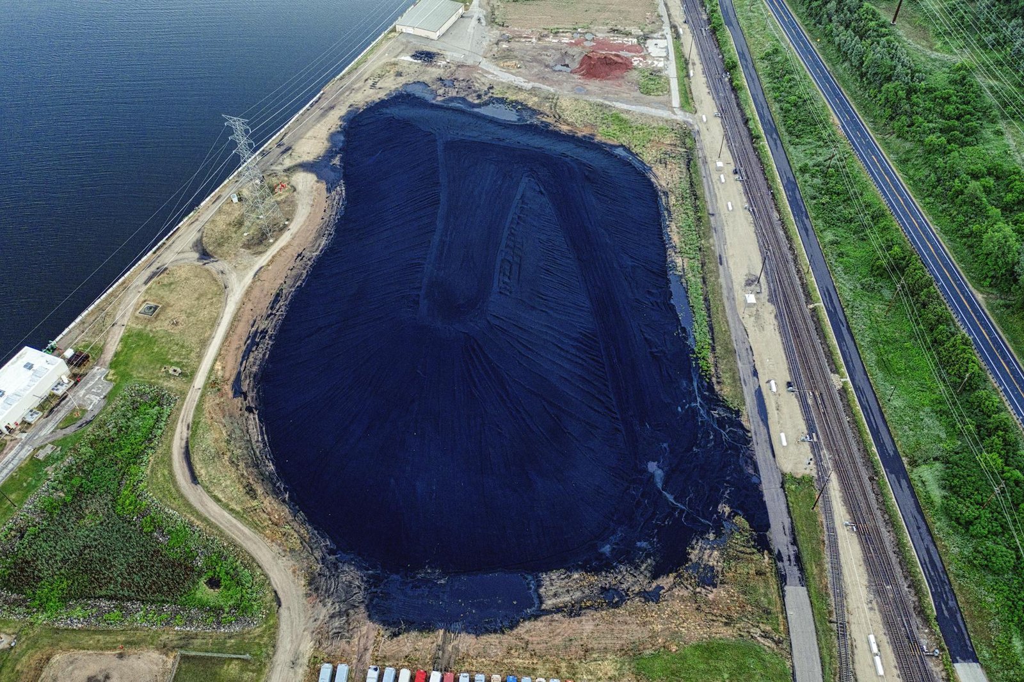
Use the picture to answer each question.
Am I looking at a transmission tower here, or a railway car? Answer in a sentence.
I can see a transmission tower in this picture.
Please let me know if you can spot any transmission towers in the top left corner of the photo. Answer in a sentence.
Yes, a transmission tower shows up in the top left corner of the photo.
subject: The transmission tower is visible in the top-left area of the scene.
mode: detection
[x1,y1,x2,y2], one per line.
[223,114,288,241]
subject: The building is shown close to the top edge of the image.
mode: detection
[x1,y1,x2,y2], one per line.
[396,0,464,40]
